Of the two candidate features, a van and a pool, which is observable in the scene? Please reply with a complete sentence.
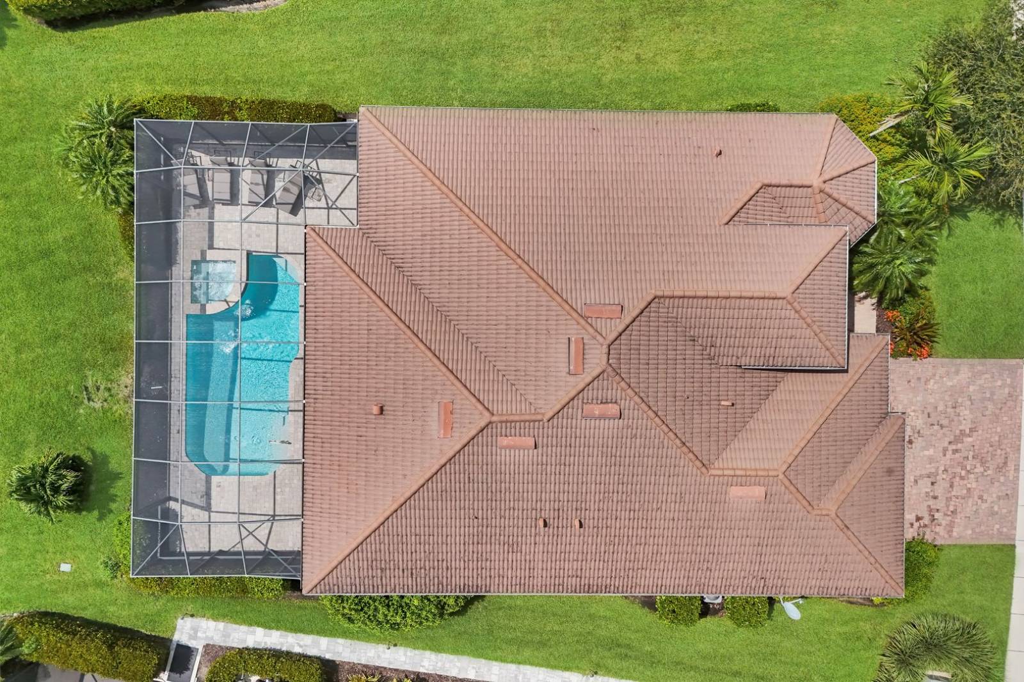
The one in the frame is a pool.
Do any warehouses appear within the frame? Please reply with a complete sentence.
No, no warehouse is visible in the view.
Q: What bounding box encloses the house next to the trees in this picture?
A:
[301,106,905,599]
